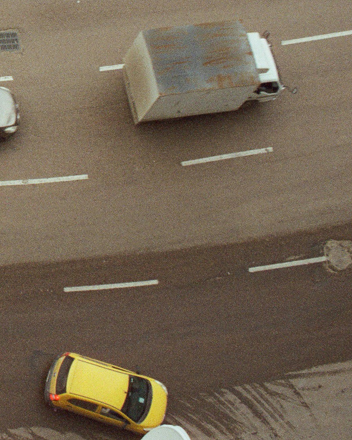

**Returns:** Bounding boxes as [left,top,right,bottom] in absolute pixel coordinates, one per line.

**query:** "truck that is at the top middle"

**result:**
[126,22,292,123]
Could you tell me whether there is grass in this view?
No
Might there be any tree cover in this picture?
No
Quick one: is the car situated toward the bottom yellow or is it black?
yellow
